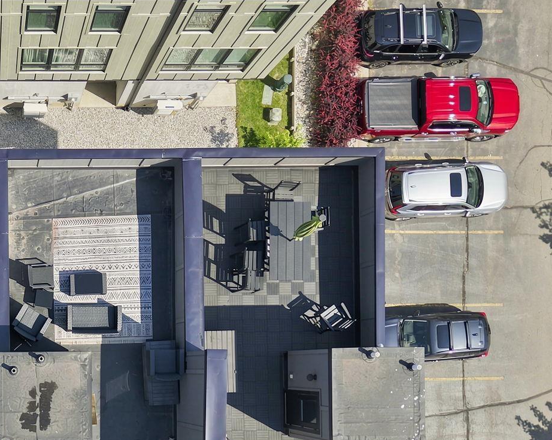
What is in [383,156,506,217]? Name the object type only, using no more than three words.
car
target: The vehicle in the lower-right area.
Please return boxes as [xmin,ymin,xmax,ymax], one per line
[384,305,493,360]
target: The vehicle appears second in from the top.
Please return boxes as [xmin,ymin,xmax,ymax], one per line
[354,72,518,141]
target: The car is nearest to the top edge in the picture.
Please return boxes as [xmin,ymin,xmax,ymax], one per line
[354,2,483,68]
